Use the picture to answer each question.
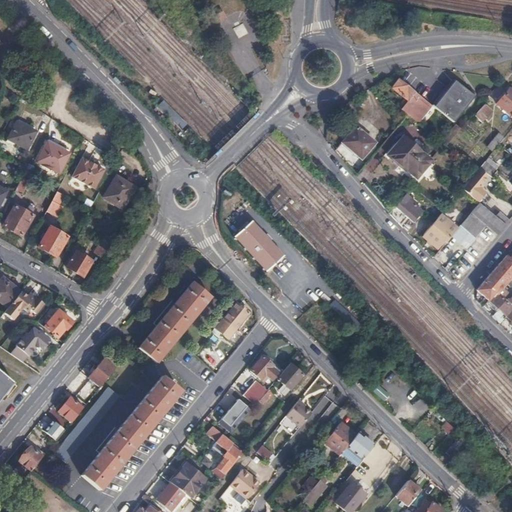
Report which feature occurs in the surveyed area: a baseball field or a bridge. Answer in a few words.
bridge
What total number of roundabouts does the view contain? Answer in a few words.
two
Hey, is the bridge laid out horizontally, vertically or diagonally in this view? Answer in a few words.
diagonally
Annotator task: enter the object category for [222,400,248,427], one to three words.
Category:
building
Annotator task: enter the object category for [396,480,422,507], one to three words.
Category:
house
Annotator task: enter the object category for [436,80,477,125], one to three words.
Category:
building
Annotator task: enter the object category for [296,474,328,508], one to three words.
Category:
house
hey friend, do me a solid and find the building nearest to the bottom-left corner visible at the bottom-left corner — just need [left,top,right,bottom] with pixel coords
[18,445,44,472]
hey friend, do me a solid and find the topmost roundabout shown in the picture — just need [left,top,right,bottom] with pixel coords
[290,34,356,100]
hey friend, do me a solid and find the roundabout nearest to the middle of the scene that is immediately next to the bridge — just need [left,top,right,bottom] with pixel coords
[158,170,216,226]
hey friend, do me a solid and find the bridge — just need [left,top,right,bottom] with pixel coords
[209,110,276,171]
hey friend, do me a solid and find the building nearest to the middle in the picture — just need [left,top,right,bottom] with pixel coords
[235,221,285,274]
